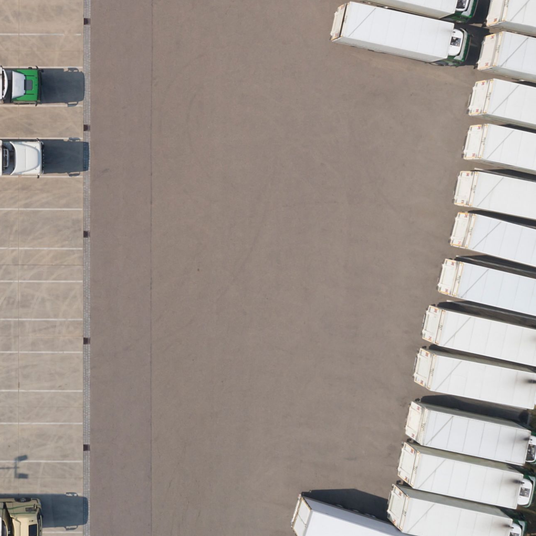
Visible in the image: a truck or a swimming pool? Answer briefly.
truck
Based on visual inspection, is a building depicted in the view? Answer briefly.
No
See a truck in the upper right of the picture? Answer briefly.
Yes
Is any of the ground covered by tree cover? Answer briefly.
No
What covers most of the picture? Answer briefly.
paved ground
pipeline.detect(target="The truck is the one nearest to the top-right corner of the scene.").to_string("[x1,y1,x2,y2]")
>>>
[481,0,536,37]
